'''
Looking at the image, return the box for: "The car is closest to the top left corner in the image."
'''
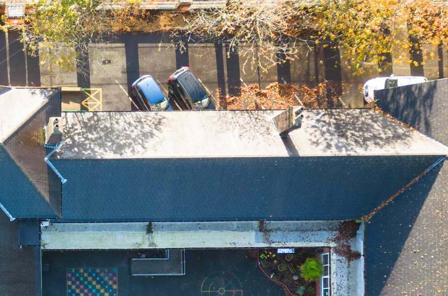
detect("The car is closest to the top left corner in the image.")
[131,72,173,109]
